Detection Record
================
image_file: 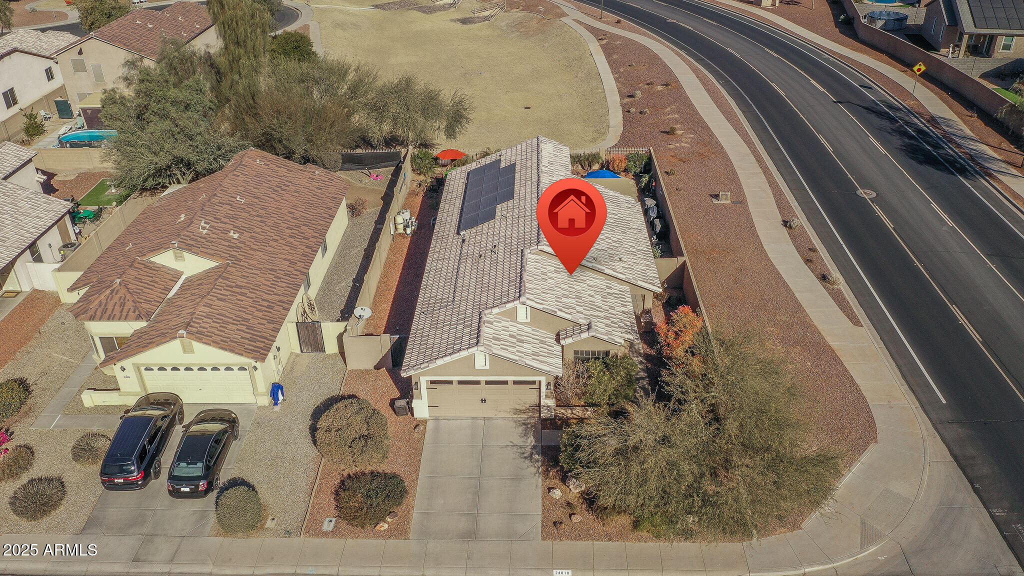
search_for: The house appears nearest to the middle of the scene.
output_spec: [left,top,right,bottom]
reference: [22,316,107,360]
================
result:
[399,132,663,420]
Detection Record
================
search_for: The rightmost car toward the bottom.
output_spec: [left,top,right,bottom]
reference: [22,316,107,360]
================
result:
[163,409,243,490]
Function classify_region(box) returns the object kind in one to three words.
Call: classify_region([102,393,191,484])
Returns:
car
